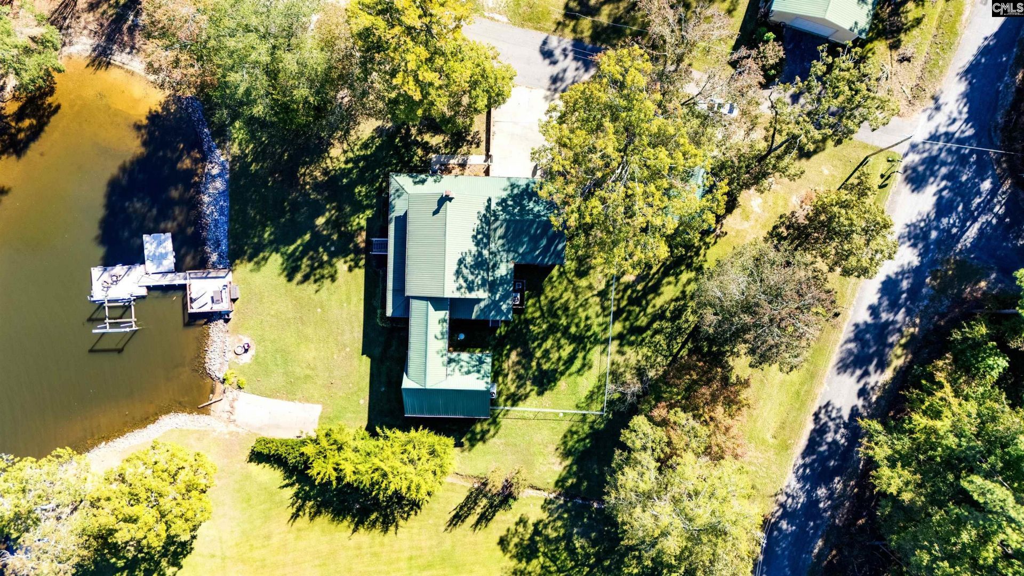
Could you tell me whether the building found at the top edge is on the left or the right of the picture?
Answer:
right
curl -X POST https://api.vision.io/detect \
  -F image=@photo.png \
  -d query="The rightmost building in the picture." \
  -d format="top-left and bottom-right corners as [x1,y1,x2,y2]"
[768,0,872,46]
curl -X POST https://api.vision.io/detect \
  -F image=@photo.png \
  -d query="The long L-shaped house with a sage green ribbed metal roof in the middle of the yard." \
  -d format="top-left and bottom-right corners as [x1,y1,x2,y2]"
[385,172,565,418]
